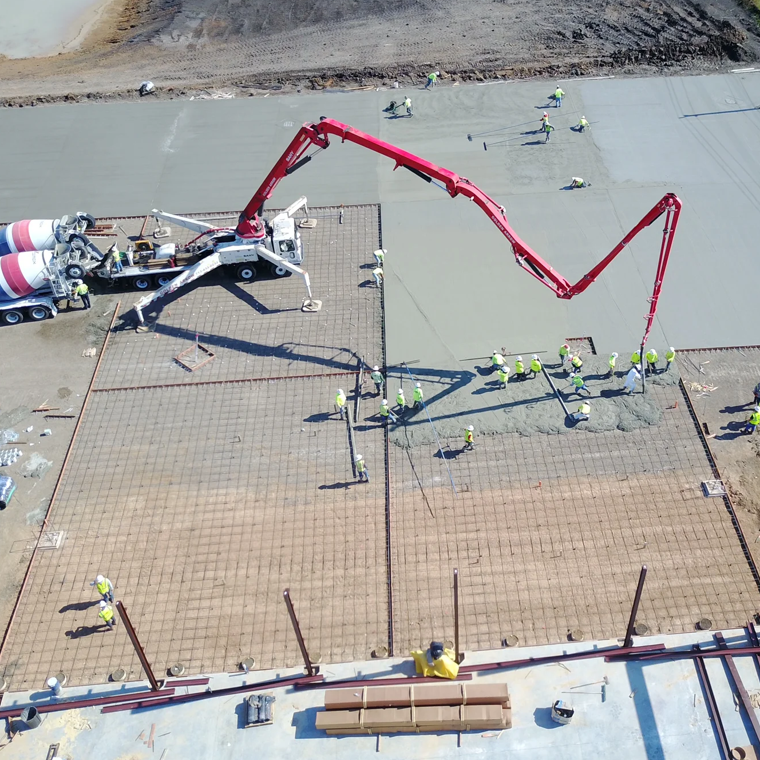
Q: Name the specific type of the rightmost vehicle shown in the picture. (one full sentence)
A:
Looking closely, the rightmost vehicle is a truck.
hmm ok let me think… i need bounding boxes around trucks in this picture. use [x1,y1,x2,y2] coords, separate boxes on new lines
[0,236,113,324]
[93,113,684,391]
[0,208,118,276]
